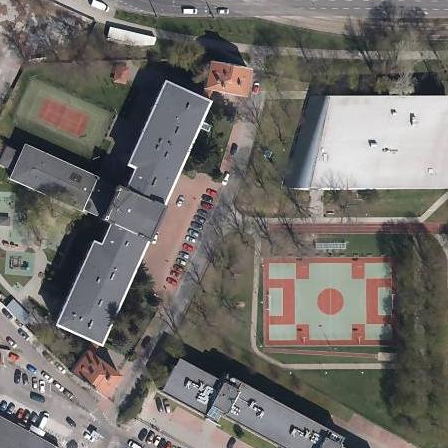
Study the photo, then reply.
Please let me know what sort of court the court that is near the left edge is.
tennis court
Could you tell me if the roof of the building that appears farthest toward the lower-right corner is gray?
Yes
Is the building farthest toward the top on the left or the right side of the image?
left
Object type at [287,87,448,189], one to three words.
building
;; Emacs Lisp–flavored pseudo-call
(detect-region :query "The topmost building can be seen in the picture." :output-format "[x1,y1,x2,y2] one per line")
[105,26,156,47]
